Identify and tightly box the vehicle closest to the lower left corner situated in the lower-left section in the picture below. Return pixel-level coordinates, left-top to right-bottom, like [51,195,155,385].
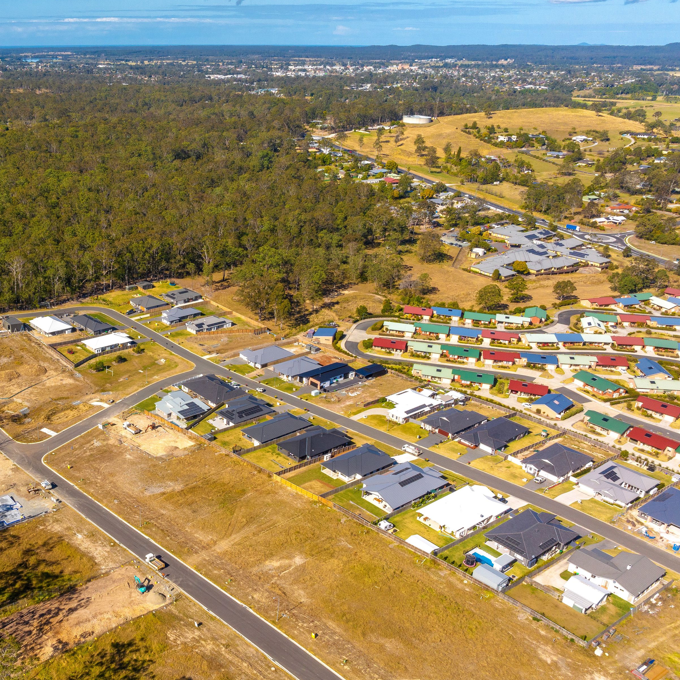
[132,576,147,596]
